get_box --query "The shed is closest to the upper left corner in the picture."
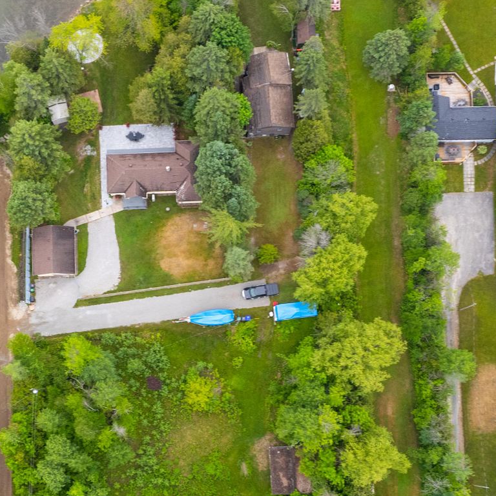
[48,96,69,126]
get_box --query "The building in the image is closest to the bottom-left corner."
[32,225,77,276]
